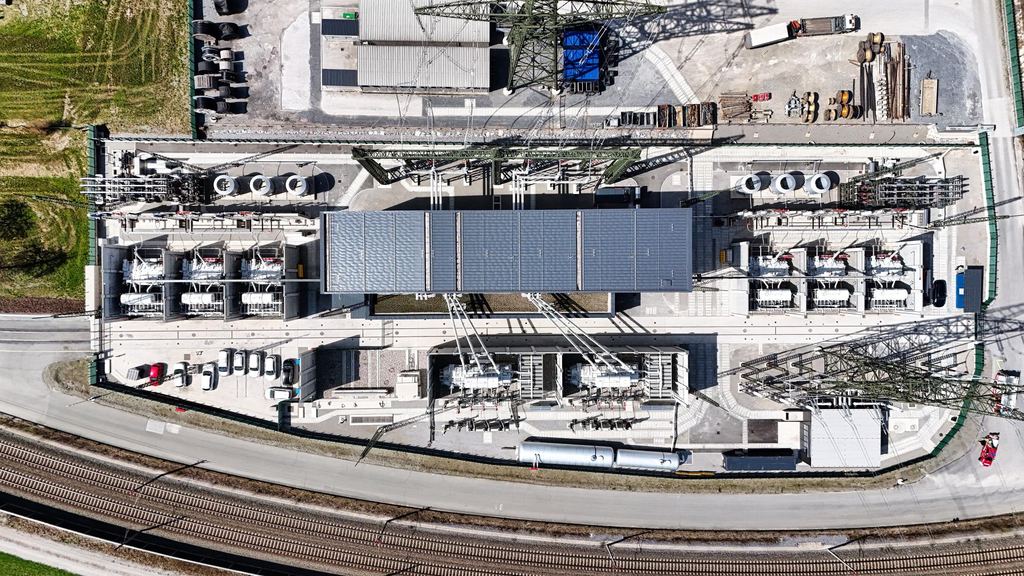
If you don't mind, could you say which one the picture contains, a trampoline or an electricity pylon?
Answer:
electricity pylon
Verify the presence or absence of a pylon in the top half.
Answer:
Yes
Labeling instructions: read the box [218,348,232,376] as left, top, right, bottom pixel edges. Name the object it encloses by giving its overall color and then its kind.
white car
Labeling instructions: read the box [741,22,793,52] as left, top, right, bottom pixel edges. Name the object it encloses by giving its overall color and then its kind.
white trailer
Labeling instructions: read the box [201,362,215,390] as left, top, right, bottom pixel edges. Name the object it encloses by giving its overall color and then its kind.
white car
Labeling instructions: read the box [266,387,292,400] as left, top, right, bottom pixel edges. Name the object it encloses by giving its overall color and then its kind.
white vehicle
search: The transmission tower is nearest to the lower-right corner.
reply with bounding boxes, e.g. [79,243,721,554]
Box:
[805,343,1024,429]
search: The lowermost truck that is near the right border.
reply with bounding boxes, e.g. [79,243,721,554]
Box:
[975,430,999,468]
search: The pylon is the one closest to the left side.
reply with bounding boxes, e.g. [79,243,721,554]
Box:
[410,0,670,97]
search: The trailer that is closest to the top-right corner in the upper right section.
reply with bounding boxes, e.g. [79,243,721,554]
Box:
[919,69,939,116]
